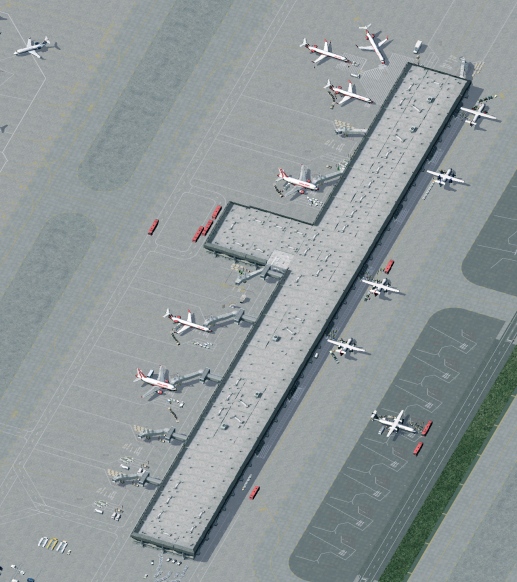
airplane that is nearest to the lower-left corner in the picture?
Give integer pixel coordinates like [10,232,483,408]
[128,365,176,399]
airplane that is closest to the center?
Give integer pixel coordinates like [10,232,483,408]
[162,308,211,336]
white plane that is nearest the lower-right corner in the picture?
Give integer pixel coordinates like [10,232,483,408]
[373,410,416,438]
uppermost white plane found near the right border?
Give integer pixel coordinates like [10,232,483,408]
[461,105,495,127]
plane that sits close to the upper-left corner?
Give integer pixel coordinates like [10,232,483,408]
[15,36,51,56]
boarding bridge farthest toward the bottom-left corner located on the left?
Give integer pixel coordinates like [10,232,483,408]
[111,471,162,493]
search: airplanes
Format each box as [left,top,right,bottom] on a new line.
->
[373,410,416,438]
[128,365,176,399]
[324,80,373,107]
[354,23,389,63]
[301,39,349,66]
[162,308,211,336]
[427,170,461,192]
[362,280,397,302]
[273,164,318,196]
[327,340,362,363]
[461,105,495,127]
[15,36,51,56]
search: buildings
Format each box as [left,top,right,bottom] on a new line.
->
[131,63,473,558]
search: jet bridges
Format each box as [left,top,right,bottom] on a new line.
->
[202,309,254,330]
[311,168,345,188]
[111,471,162,493]
[333,128,369,140]
[137,427,187,448]
[458,55,466,80]
[234,264,284,287]
[168,368,222,389]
